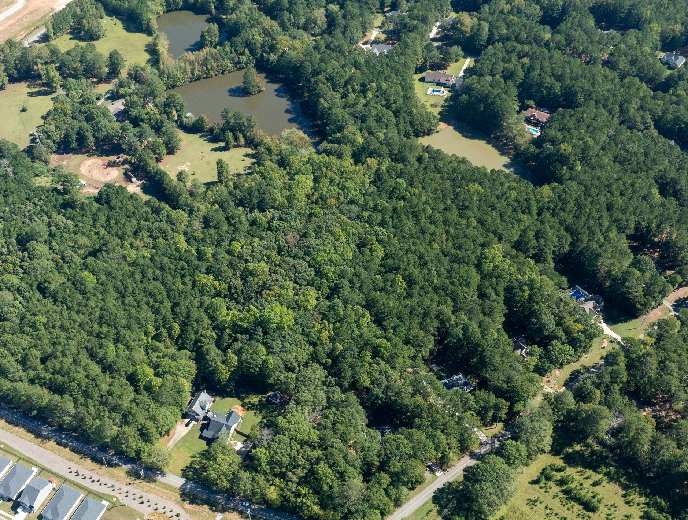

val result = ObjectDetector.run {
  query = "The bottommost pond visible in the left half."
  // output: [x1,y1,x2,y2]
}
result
[167,69,321,146]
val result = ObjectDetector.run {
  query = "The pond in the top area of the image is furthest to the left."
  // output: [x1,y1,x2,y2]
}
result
[156,10,229,59]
